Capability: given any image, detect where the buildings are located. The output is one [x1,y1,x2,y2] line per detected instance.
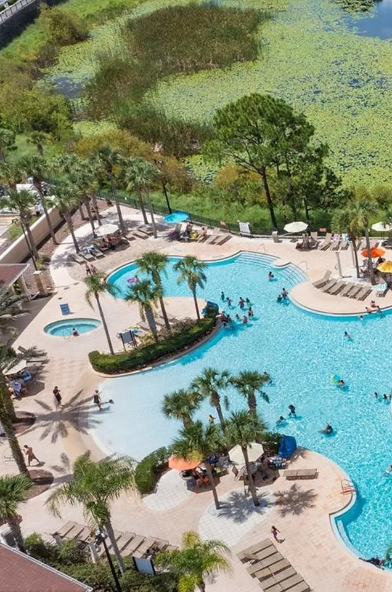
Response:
[0,263,30,305]
[0,541,95,592]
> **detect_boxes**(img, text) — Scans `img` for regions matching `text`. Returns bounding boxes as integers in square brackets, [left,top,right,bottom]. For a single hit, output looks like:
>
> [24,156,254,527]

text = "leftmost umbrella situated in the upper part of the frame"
[95,225,121,245]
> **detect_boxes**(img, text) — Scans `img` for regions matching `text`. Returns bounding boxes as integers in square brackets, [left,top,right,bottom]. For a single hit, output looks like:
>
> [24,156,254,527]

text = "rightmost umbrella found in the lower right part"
[276,432,301,457]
